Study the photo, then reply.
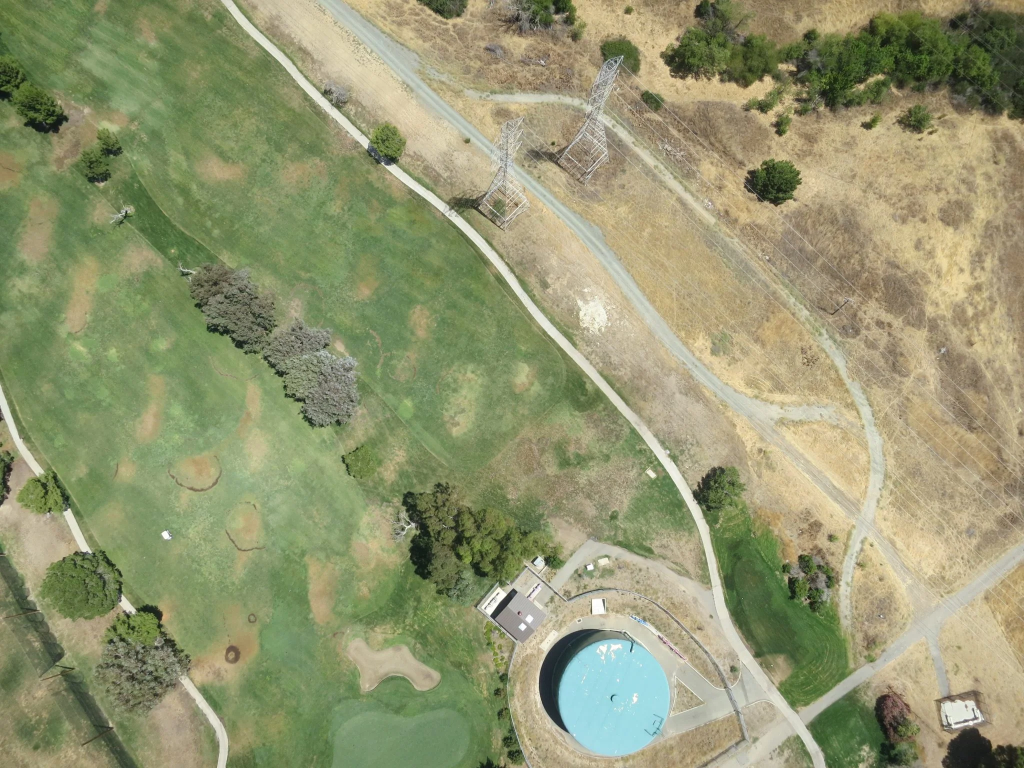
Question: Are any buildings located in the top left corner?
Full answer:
No, no building appears in the top left corner.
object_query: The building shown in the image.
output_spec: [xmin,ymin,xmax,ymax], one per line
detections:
[495,590,546,644]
